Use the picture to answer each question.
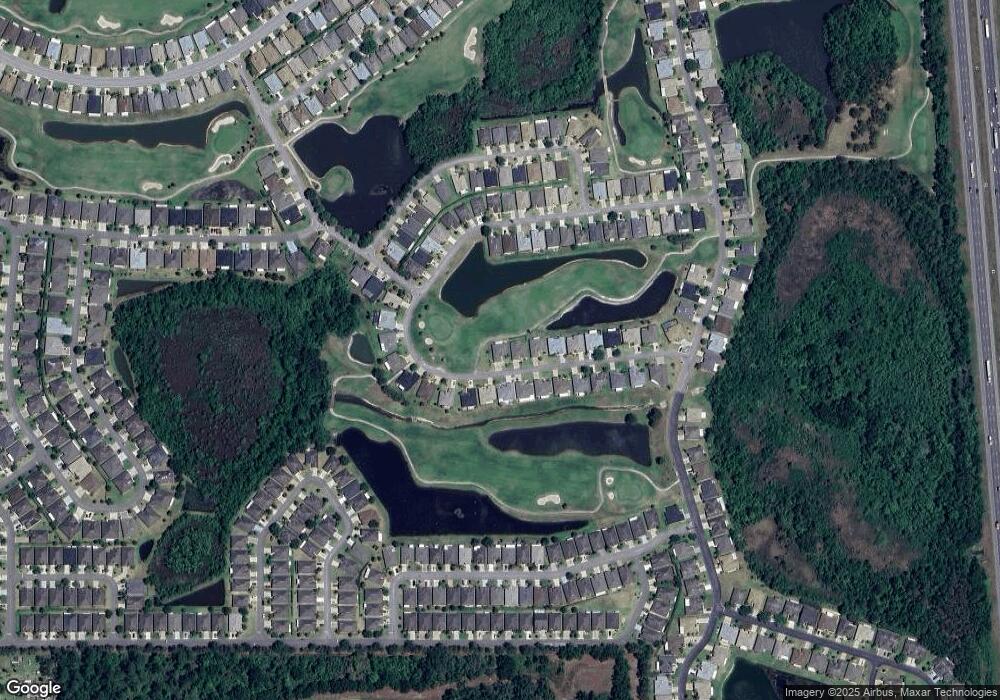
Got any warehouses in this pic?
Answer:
No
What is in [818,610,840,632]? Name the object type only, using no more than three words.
house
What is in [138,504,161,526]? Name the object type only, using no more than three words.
house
